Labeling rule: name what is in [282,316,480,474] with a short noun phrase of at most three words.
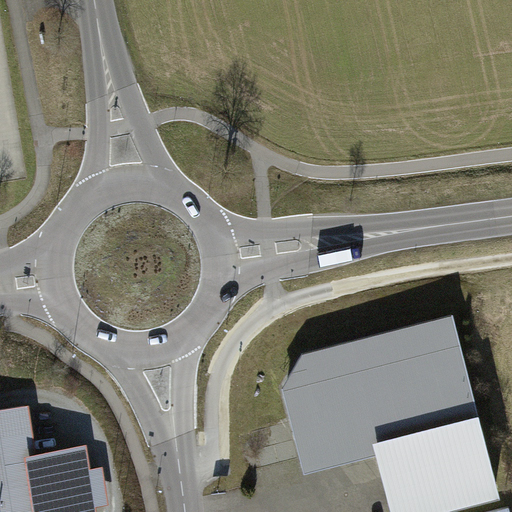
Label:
building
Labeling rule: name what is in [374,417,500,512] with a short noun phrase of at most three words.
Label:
building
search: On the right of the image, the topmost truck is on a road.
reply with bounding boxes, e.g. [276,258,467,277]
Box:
[318,246,363,268]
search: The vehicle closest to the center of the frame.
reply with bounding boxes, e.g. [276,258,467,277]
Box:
[219,284,238,304]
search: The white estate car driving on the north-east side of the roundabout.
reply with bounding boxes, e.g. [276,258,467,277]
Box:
[182,196,200,218]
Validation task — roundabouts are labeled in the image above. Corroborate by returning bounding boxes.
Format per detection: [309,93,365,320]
[0,83,312,446]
